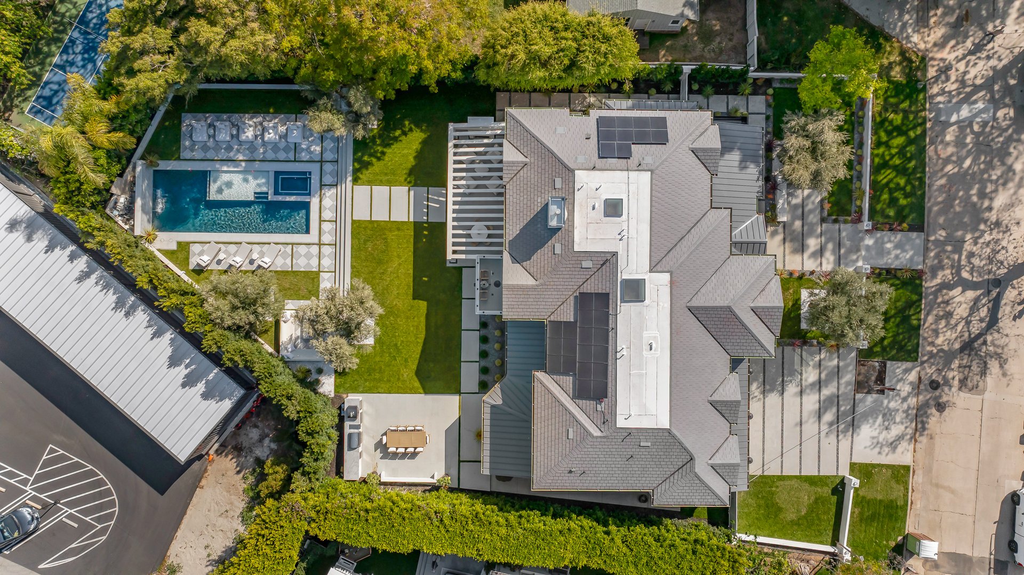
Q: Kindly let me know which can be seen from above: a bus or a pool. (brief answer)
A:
pool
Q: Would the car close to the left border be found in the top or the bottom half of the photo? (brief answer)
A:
bottom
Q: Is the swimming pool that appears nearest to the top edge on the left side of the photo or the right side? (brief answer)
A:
left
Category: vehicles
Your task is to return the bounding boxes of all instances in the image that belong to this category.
[0,506,38,556]
[1010,490,1024,568]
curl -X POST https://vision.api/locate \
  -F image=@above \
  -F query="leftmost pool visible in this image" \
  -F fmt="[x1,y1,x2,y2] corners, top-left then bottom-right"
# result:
[133,160,321,249]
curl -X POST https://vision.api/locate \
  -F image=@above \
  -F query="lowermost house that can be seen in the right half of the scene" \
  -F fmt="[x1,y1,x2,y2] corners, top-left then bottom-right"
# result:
[477,97,784,508]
